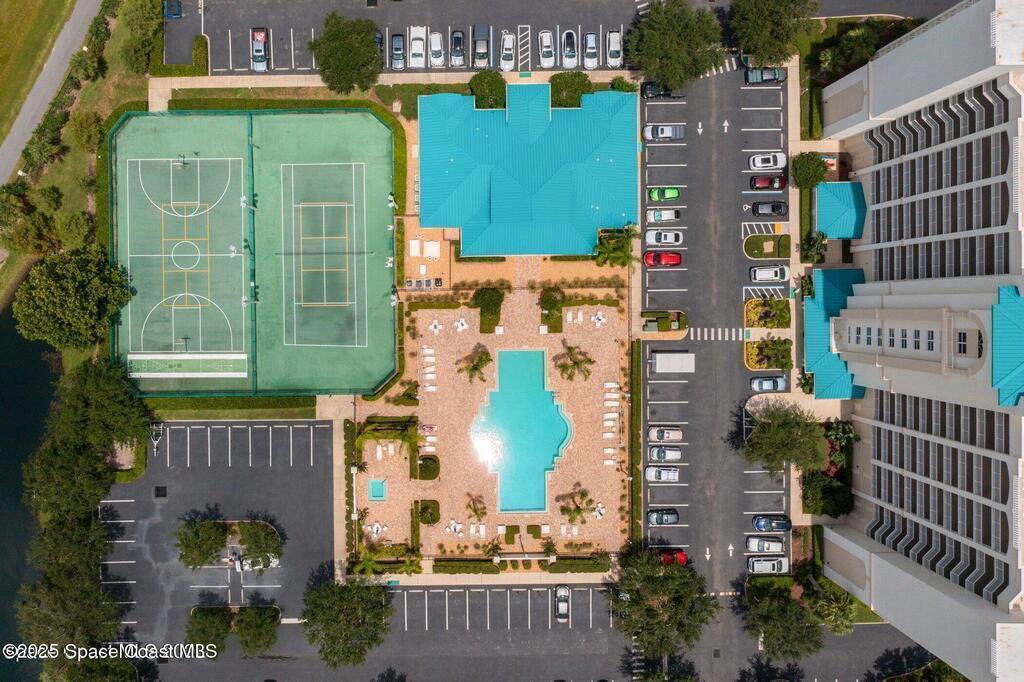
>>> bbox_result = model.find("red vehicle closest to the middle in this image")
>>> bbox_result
[643,251,681,267]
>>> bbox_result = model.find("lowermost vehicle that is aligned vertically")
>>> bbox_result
[555,584,571,622]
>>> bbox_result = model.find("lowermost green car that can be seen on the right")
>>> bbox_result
[648,186,679,202]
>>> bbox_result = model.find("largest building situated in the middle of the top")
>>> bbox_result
[418,83,642,256]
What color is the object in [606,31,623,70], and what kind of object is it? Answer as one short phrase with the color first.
white car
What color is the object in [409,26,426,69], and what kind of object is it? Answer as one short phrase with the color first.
white vehicle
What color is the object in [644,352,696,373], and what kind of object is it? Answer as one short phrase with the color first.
white trailer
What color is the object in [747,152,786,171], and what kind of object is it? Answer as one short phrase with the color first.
white car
